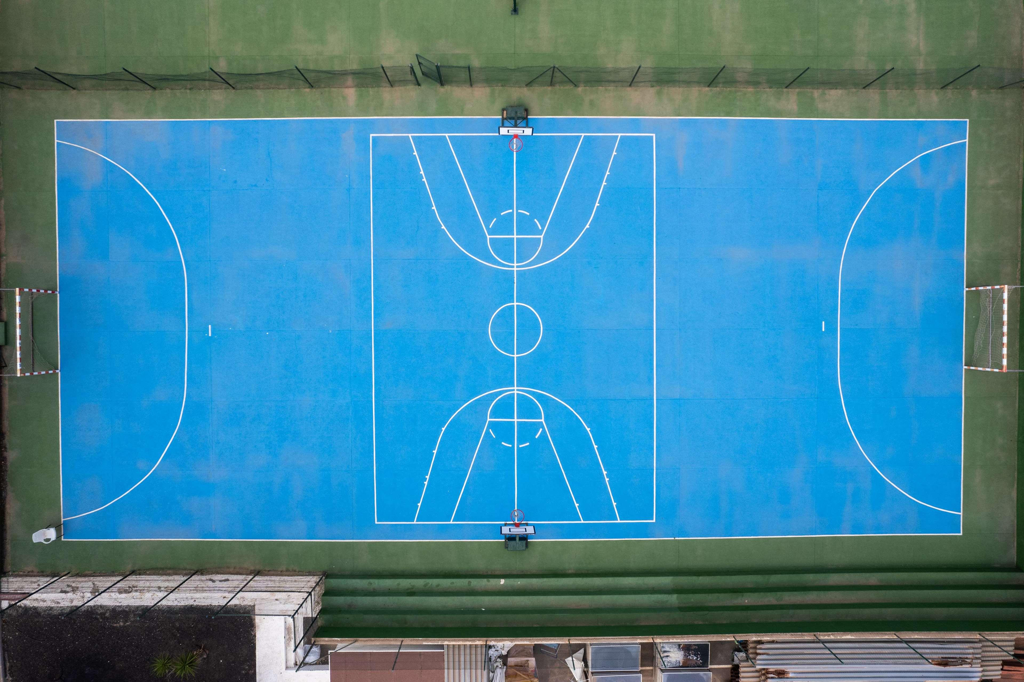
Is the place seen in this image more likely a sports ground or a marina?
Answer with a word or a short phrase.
sports ground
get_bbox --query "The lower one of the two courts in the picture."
[0,86,1024,573]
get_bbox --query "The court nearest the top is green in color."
[0,0,1024,86]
